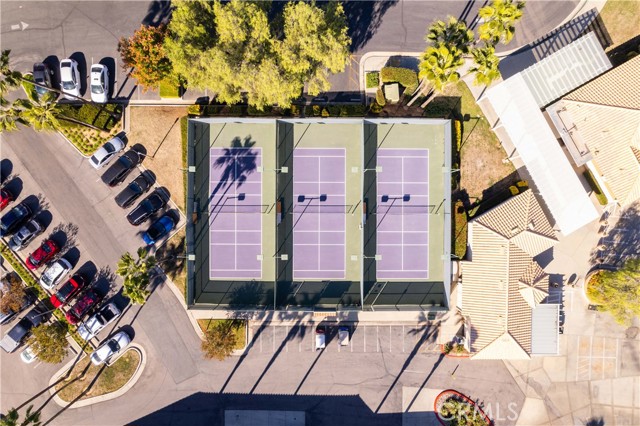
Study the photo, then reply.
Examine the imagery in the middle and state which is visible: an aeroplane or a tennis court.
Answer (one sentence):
The one visible in the middle is a tennis court.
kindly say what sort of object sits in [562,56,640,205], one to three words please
building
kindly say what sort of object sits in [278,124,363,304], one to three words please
tennis court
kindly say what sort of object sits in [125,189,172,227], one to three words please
truck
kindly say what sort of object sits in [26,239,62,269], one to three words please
car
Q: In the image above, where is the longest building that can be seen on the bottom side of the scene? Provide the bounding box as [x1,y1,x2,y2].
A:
[456,188,560,360]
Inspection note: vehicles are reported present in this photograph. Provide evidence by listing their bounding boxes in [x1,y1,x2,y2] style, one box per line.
[0,313,46,352]
[48,275,89,308]
[99,149,145,185]
[114,171,157,206]
[338,324,349,345]
[64,289,105,322]
[88,62,111,105]
[58,56,82,101]
[91,332,131,365]
[26,239,62,269]
[0,202,36,235]
[125,189,172,227]
[7,219,46,250]
[78,302,122,338]
[0,186,19,211]
[88,134,128,166]
[140,214,181,243]
[31,60,54,98]
[19,344,41,364]
[39,258,76,288]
